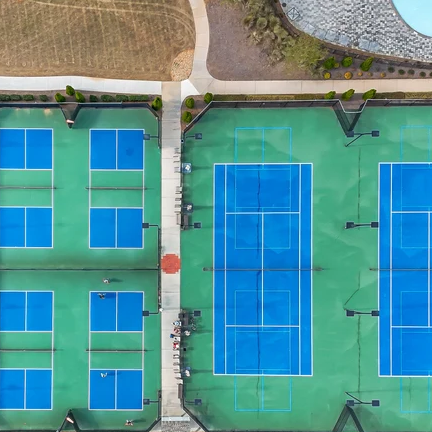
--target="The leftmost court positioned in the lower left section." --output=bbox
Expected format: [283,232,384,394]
[0,291,53,410]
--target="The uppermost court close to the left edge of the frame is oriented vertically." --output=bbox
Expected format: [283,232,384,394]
[0,128,53,248]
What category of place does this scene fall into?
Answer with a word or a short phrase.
sports ground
